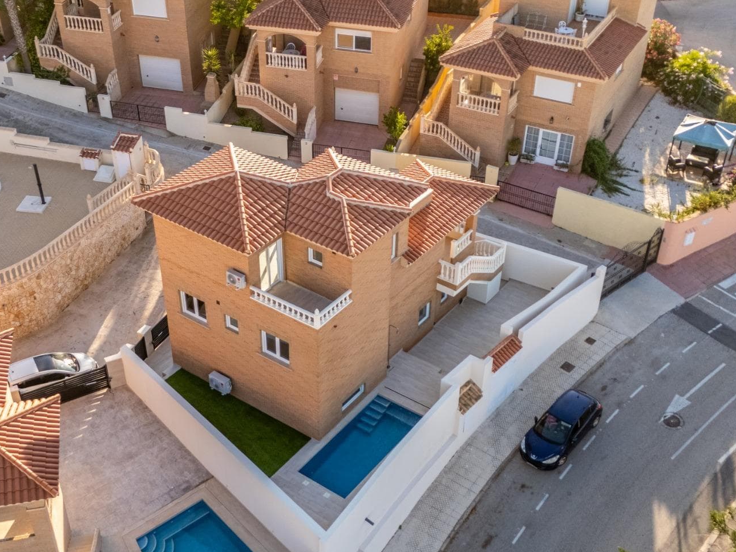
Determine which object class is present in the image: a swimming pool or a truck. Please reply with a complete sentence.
This aerial view contains a swimming pool.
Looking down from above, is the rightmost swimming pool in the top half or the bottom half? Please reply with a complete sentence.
The rightmost swimming pool is in the bottom half of the image.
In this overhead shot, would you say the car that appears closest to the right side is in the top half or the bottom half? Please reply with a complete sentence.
You can find the car that appears closest to the right side in the bottom half.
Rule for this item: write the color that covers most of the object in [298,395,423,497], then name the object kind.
blue swimming pool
